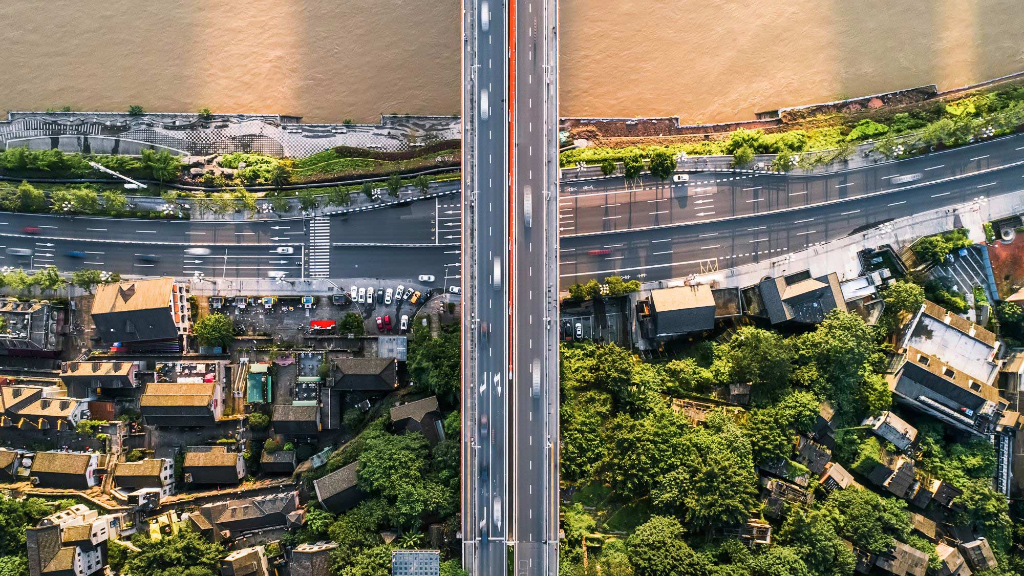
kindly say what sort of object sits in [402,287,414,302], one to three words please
vehicle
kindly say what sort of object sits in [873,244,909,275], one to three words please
building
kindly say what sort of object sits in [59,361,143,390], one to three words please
house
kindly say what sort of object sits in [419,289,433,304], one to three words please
car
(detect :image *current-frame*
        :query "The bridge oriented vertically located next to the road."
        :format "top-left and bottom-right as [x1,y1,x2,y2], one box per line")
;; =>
[458,0,566,576]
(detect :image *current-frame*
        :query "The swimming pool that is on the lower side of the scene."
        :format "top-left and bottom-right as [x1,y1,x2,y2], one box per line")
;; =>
[247,372,273,396]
